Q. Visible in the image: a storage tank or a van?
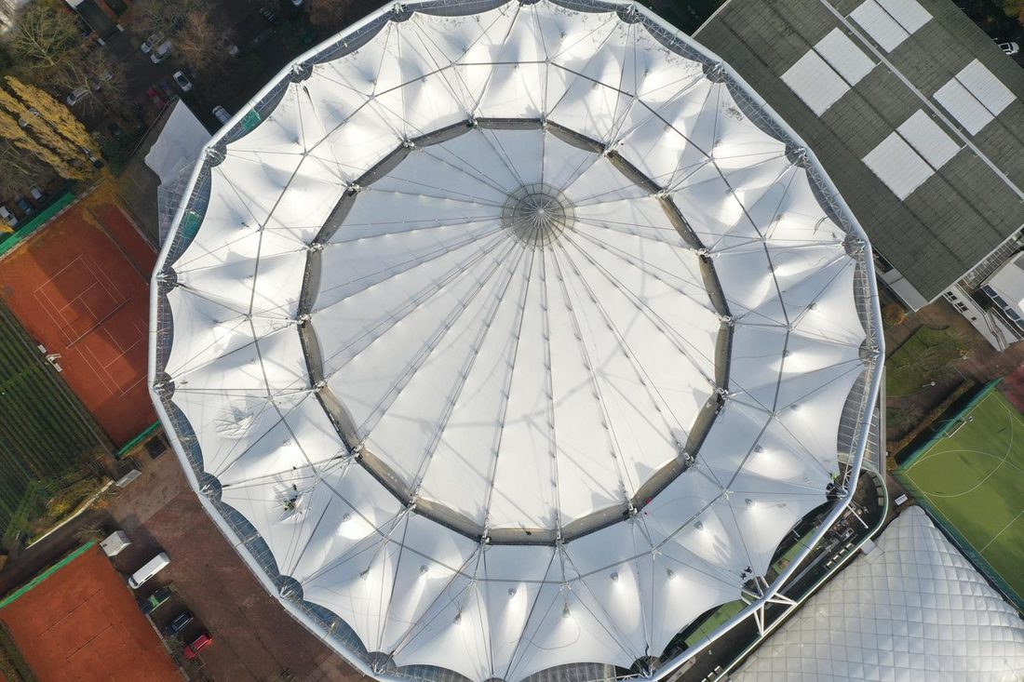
van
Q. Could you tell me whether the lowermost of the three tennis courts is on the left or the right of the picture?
left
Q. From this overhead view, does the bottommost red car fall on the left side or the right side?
left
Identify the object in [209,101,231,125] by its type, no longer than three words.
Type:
vehicle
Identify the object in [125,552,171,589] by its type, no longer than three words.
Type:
van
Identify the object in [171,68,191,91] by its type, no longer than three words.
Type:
car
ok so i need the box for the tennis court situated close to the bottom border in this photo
[0,549,183,682]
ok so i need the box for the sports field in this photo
[891,385,1024,602]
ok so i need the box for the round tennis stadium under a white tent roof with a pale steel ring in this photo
[150,0,889,682]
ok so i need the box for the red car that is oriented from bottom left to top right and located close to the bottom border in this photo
[181,633,210,660]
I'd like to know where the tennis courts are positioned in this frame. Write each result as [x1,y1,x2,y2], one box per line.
[0,198,163,449]
[0,549,183,682]
[94,200,159,285]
